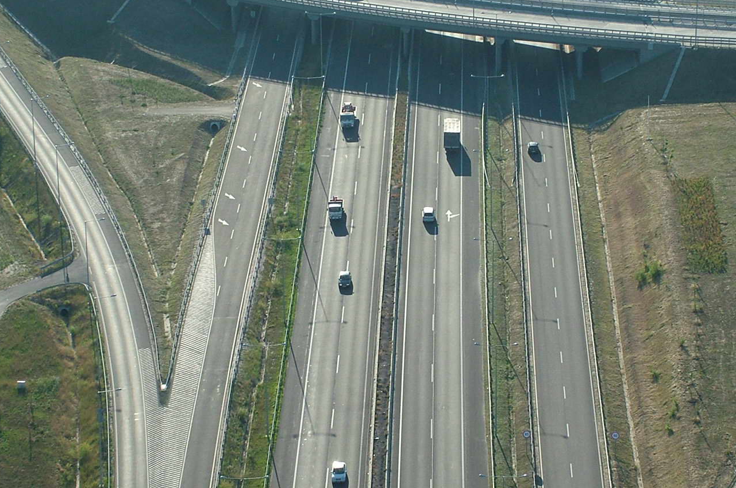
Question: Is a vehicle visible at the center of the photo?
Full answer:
Yes, looking at the center of the photo, one can make out a vehicle.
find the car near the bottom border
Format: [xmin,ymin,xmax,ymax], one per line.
[331,460,348,481]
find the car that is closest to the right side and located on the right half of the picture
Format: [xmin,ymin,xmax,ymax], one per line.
[527,140,539,152]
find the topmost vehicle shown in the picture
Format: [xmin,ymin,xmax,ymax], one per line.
[338,97,357,127]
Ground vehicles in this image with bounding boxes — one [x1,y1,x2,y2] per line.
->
[326,185,346,217]
[422,208,435,220]
[527,140,539,152]
[338,97,357,127]
[331,460,348,481]
[338,268,352,285]
[443,119,461,148]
